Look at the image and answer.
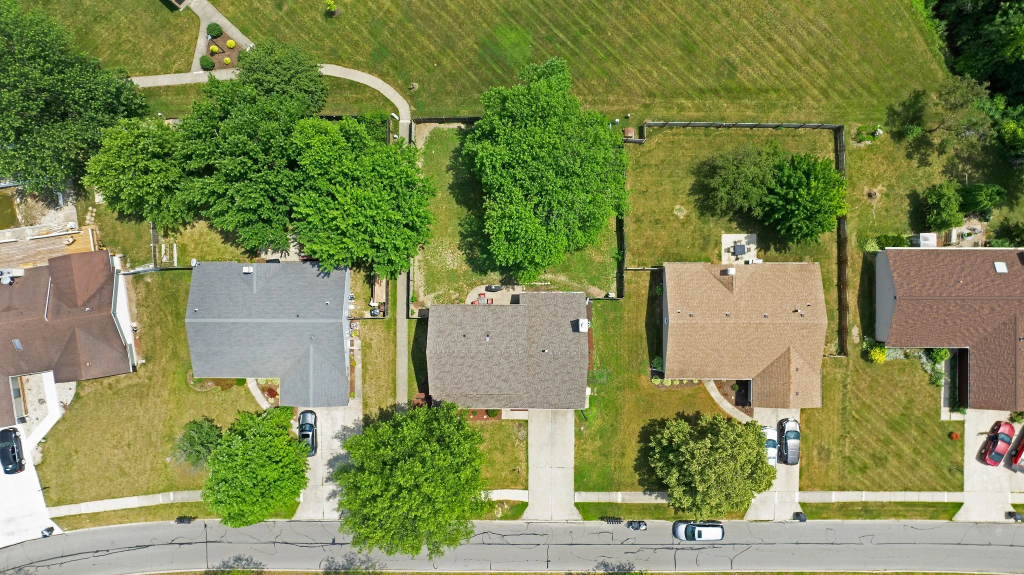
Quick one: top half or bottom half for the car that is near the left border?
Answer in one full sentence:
It is in the bottom half that the car that is near the left border appears.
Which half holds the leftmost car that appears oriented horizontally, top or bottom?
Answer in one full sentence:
You can find the leftmost car that appears oriented horizontally in the bottom half.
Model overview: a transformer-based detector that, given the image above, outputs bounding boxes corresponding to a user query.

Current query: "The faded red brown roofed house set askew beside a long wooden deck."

[0,250,135,428]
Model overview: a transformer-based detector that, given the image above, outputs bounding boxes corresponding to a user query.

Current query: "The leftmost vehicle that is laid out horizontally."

[673,516,726,540]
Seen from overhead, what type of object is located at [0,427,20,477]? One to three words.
car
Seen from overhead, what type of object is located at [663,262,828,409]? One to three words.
house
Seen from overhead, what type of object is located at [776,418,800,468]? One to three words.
car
